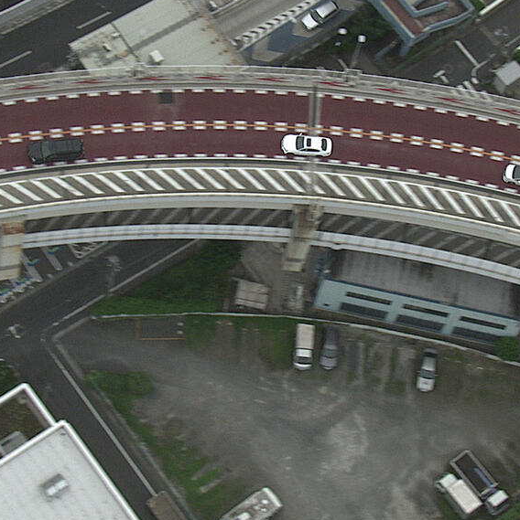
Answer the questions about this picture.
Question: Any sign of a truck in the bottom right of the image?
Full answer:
Yes, a truck shows up in the bottom right of the image.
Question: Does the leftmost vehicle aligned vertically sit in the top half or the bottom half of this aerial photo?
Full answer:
It is in the bottom half that the leftmost vehicle aligned vertically appears.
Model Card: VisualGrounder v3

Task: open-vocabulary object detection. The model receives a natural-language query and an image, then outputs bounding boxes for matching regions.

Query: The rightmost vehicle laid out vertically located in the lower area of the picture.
[417,347,441,393]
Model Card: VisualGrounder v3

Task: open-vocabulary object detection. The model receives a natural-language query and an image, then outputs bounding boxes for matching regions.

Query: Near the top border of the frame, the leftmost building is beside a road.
[66,0,244,69]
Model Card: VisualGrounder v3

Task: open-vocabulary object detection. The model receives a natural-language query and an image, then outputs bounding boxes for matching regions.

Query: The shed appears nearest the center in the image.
[232,278,268,320]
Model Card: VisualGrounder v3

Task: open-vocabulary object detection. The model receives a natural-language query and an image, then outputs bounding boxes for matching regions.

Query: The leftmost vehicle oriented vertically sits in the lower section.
[294,320,316,370]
